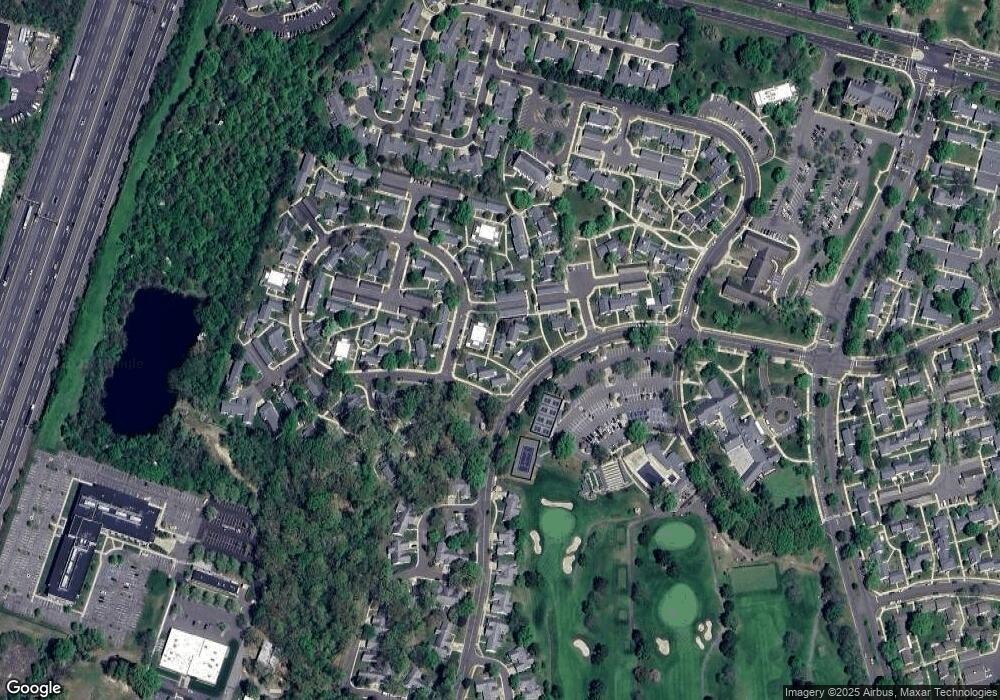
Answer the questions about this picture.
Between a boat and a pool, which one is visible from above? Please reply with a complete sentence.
This aerial view contains a pool.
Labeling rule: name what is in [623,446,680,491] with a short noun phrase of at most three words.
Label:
swimming pool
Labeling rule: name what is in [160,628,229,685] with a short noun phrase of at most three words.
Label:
building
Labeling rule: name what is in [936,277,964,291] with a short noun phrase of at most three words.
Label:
house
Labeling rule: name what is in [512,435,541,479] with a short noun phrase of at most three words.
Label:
tennis court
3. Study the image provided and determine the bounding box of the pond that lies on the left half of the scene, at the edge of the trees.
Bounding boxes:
[103,287,203,435]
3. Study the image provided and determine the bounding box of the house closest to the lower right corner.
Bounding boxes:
[962,665,990,686]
